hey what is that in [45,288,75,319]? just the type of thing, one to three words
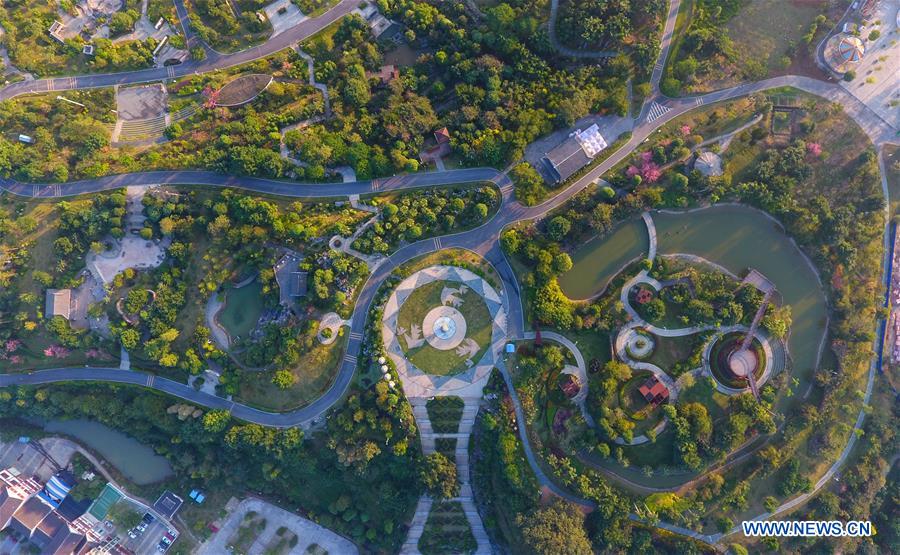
building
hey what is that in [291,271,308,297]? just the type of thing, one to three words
building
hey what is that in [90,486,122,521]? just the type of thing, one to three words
sports court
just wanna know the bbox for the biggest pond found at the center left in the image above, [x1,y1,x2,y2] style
[217,281,265,340]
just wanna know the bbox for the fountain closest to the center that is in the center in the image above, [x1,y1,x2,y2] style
[432,317,456,340]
